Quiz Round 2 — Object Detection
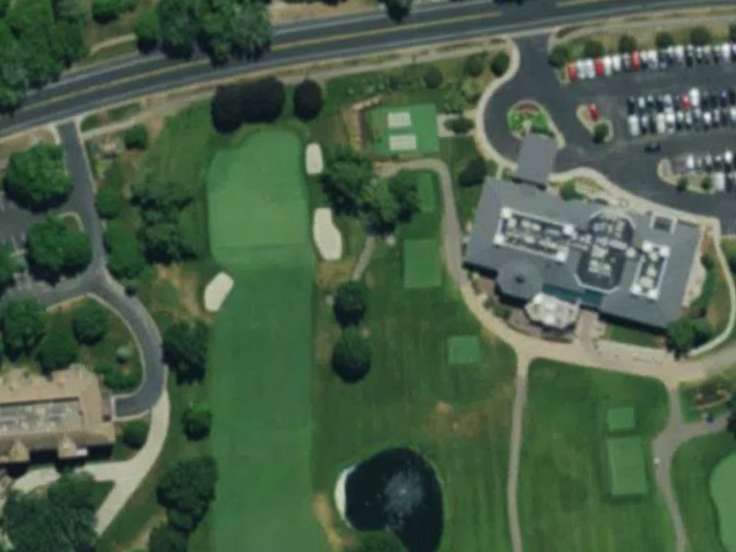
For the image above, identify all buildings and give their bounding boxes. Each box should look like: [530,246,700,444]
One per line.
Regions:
[0,365,115,480]
[463,136,701,341]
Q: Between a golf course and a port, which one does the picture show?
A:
golf course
